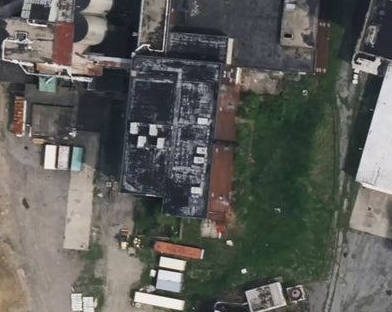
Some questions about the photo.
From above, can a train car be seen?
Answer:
No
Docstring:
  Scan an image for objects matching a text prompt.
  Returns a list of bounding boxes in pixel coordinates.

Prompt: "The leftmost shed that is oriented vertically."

[13,96,29,138]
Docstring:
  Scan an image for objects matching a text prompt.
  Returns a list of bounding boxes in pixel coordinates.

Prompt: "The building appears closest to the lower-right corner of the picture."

[246,281,291,312]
